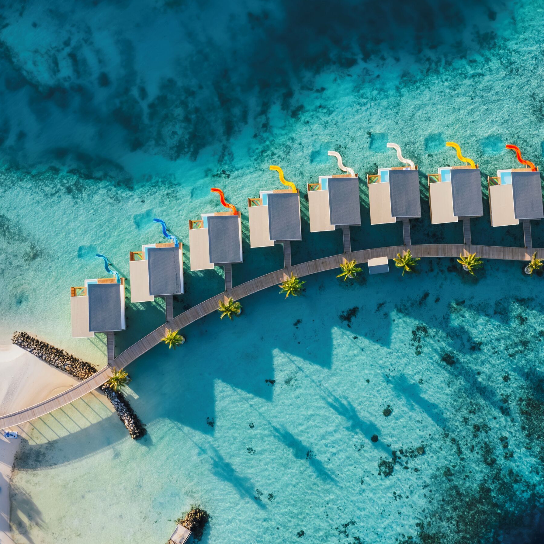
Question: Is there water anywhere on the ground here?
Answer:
Yes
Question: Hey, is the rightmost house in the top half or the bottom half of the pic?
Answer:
top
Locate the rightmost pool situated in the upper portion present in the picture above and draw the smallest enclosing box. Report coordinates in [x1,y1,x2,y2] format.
[497,170,512,185]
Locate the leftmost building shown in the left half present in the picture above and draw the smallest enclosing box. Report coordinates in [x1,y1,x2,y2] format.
[70,253,129,339]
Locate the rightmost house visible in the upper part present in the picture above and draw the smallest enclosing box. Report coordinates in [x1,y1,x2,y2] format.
[487,145,544,227]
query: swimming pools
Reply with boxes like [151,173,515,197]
[260,190,274,206]
[202,213,214,228]
[438,168,453,182]
[497,170,512,185]
[144,244,156,260]
[318,176,332,190]
[379,168,392,182]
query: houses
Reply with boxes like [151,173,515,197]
[306,151,362,233]
[128,218,187,302]
[487,145,544,227]
[70,253,129,339]
[246,165,302,247]
[187,187,245,270]
[366,143,422,225]
[428,143,484,225]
